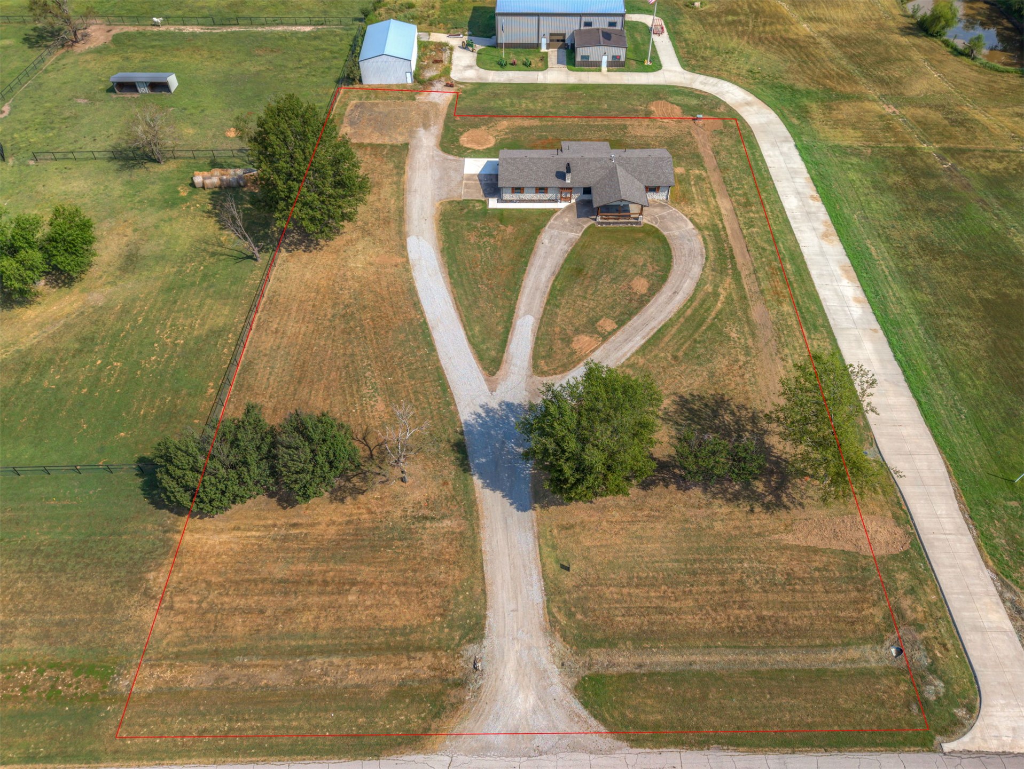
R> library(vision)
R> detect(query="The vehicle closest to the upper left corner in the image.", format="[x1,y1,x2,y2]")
[463,34,480,51]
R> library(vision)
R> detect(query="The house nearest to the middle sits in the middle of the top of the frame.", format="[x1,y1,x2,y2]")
[498,140,674,218]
